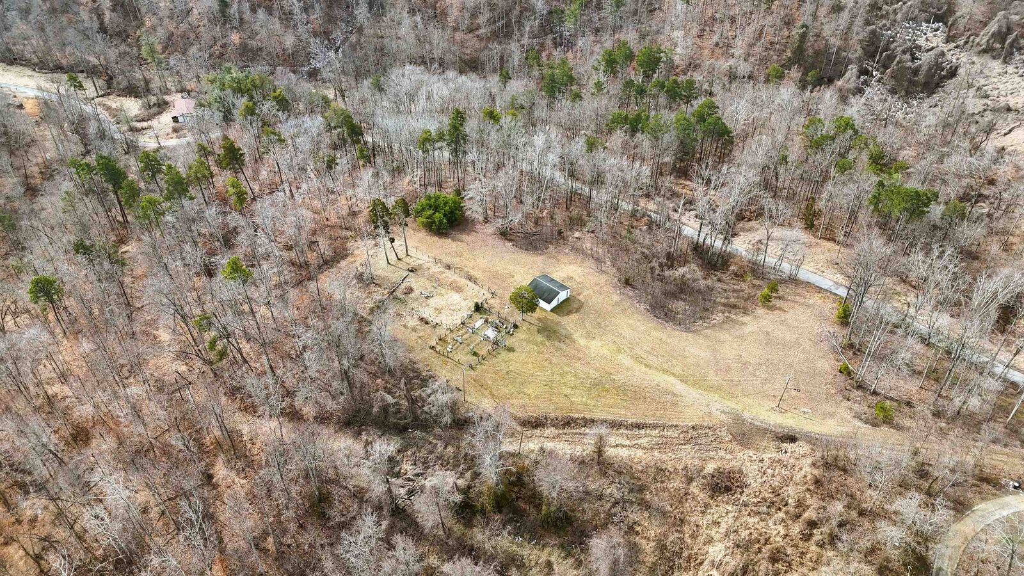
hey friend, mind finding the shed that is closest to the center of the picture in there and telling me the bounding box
[524,274,574,310]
